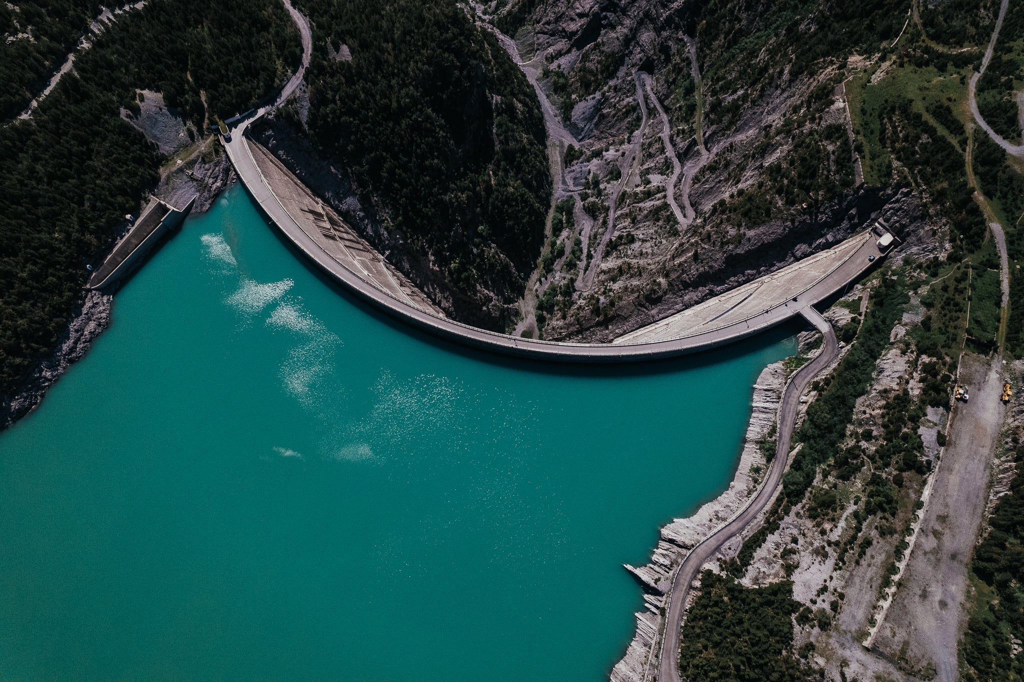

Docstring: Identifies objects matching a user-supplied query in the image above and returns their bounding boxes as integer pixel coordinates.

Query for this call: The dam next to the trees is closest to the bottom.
[221,137,894,363]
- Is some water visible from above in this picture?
Yes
